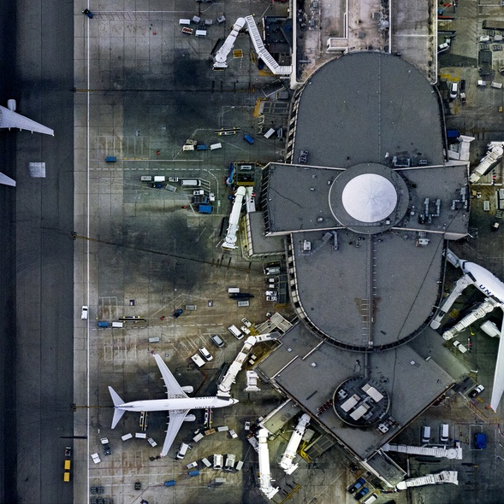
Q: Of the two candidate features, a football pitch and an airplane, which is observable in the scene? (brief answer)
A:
airplane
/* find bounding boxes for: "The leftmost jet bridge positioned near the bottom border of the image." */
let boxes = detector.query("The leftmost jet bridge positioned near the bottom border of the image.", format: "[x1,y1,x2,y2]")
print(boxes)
[253,427,285,504]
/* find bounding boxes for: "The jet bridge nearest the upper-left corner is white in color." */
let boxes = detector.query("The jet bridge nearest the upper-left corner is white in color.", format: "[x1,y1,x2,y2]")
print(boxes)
[211,14,290,77]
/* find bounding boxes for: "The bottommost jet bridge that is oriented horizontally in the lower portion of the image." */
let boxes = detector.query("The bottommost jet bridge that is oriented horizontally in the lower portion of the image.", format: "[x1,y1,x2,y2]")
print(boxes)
[393,468,462,493]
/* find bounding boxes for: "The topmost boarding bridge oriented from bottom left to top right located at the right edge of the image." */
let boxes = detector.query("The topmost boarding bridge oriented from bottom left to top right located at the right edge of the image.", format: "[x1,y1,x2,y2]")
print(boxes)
[469,135,504,186]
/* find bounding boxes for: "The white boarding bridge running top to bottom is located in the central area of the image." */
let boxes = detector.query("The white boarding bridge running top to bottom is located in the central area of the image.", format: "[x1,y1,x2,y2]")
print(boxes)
[219,183,247,253]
